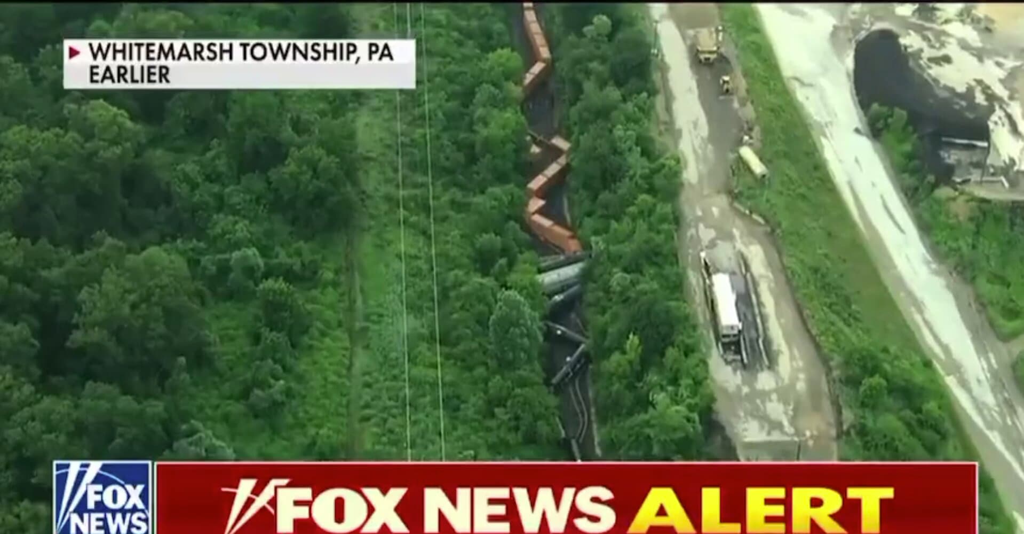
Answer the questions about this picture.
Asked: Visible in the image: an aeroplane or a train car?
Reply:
train car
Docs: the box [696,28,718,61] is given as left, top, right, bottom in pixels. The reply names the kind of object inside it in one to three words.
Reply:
truck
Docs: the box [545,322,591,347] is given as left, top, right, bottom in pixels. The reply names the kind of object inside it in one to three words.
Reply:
rail car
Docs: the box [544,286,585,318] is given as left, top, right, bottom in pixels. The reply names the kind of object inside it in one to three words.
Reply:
rail car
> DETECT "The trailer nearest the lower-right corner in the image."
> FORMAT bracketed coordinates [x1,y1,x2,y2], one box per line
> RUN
[711,273,739,337]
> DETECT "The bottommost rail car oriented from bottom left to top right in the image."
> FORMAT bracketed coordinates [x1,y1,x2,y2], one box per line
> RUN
[553,346,594,390]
